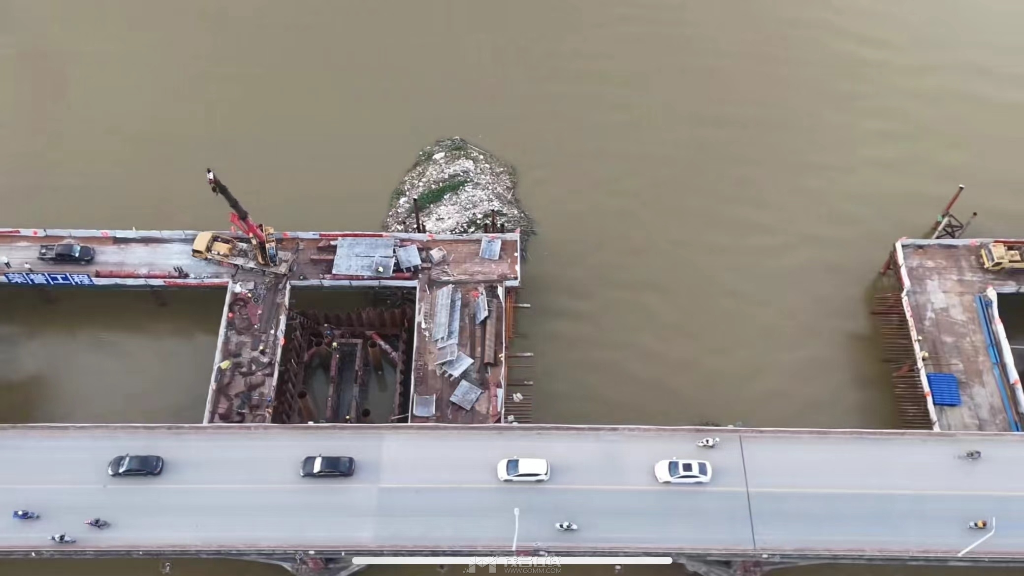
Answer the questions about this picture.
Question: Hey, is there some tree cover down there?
No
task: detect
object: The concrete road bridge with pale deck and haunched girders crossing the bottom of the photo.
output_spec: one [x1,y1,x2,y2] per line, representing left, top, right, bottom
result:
[0,422,1024,576]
